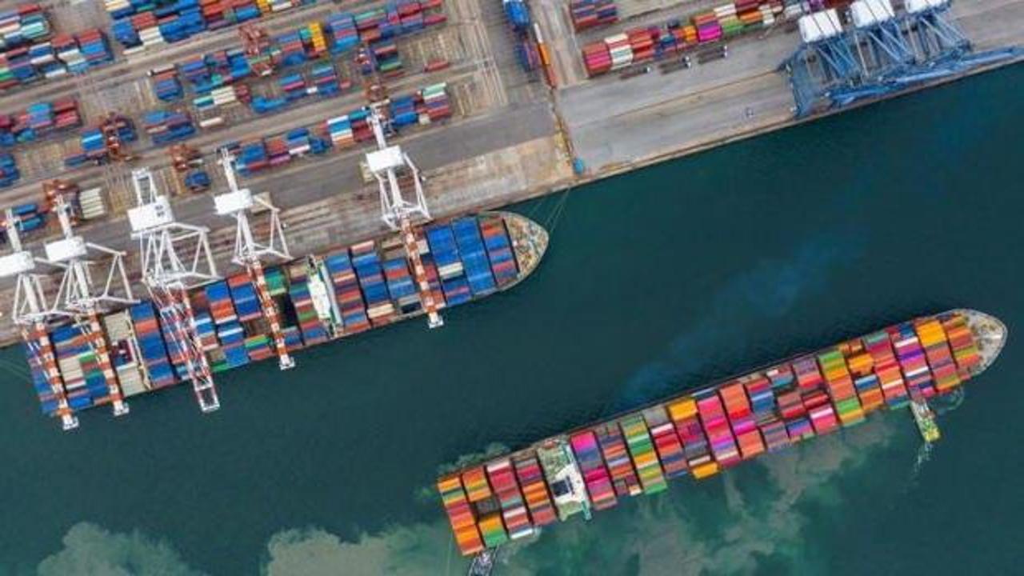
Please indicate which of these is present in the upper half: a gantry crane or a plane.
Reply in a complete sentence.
The feature located in the upper half is a gantry crane.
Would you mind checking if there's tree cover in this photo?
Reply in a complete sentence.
No, no tree cover is visible.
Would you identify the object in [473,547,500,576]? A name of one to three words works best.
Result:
boat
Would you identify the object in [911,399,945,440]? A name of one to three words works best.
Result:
boat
